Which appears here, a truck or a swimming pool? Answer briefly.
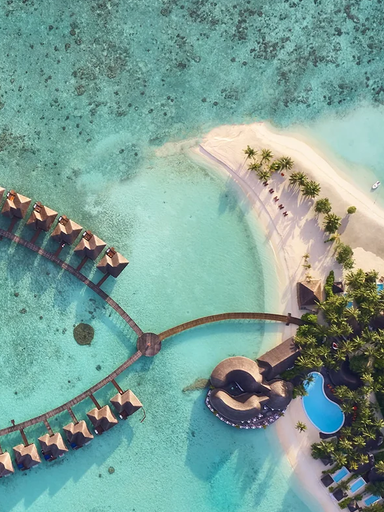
swimming pool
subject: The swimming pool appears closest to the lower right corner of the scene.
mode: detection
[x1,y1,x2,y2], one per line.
[361,494,384,509]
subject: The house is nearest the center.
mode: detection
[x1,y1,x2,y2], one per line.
[95,247,130,278]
